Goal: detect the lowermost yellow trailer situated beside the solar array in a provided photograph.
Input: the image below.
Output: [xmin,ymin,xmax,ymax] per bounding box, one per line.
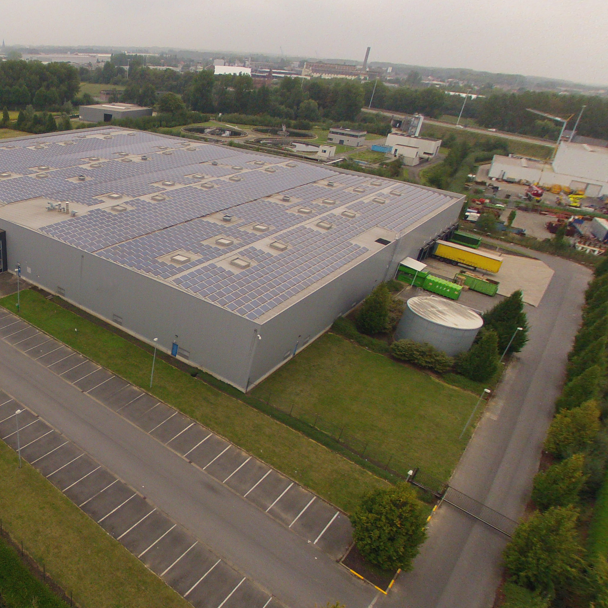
[427,240,503,275]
